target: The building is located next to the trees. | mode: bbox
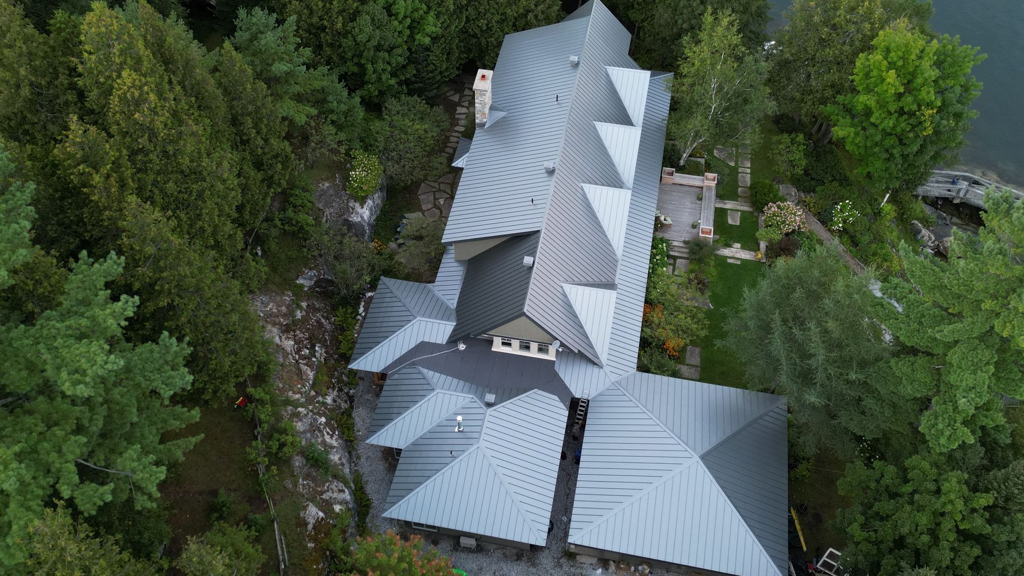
[347,0,789,576]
